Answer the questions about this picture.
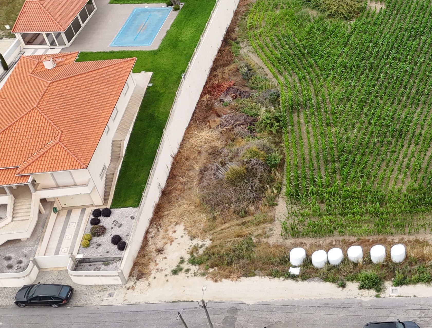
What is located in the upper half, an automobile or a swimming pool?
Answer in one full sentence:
You can see a swimming pool in the upper half.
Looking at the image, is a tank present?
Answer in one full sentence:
No, the picture doesn't show any tank.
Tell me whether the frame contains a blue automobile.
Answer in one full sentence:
No, no blue automobile is visible in the scene.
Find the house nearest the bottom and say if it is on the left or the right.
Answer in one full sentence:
It is on the left.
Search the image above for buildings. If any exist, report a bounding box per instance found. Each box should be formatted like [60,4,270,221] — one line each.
[6,0,96,46]
[0,49,153,242]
